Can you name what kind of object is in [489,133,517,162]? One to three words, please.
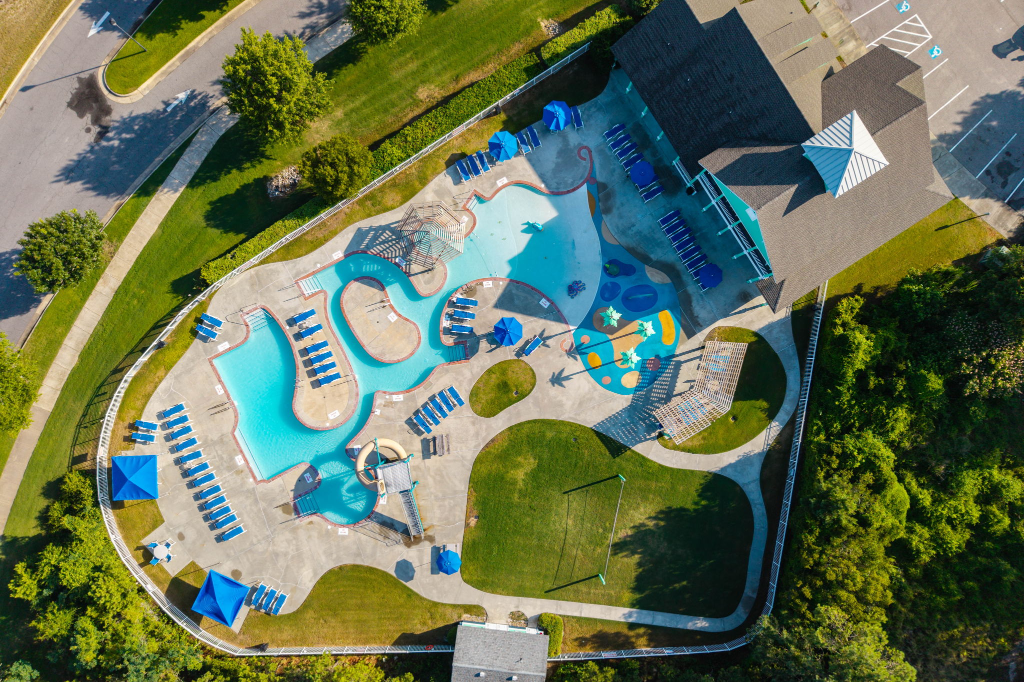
umbrella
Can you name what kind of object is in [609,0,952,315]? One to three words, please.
building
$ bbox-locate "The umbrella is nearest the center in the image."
[494,316,522,345]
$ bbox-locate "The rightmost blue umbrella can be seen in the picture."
[695,263,722,290]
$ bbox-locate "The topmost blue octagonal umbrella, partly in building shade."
[542,103,571,132]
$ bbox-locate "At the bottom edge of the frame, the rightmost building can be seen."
[451,612,549,682]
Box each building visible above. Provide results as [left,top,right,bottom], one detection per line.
[609,0,952,315]
[451,612,549,682]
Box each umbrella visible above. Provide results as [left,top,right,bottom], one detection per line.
[435,546,464,575]
[489,133,517,162]
[695,263,722,290]
[542,103,571,132]
[628,160,657,189]
[494,316,522,345]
